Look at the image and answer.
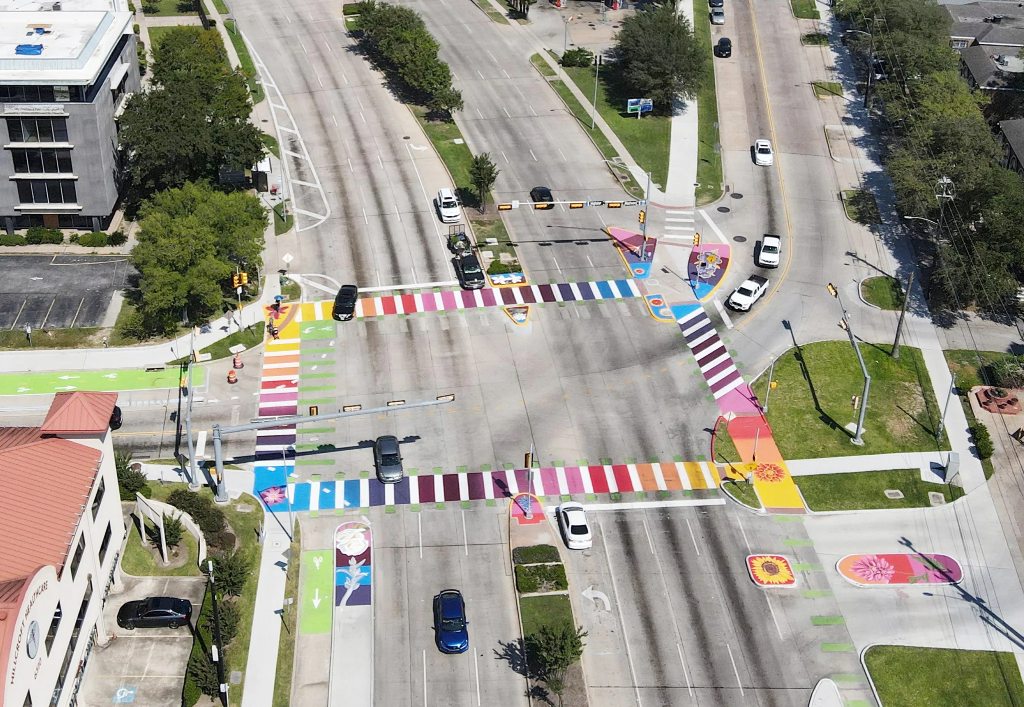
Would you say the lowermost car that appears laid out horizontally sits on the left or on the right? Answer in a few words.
left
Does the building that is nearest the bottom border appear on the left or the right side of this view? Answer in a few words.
left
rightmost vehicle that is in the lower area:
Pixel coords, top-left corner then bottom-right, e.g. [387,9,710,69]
[556,493,594,545]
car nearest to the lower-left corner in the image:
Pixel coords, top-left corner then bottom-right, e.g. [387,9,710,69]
[118,593,195,628]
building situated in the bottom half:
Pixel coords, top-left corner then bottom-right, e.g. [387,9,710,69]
[0,389,130,707]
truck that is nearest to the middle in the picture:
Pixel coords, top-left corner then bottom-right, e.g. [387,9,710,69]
[456,247,484,284]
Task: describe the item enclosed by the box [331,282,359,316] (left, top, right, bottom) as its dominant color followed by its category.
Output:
black car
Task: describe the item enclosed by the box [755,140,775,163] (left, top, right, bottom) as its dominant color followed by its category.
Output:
white car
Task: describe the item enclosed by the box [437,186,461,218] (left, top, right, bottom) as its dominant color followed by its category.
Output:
white car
